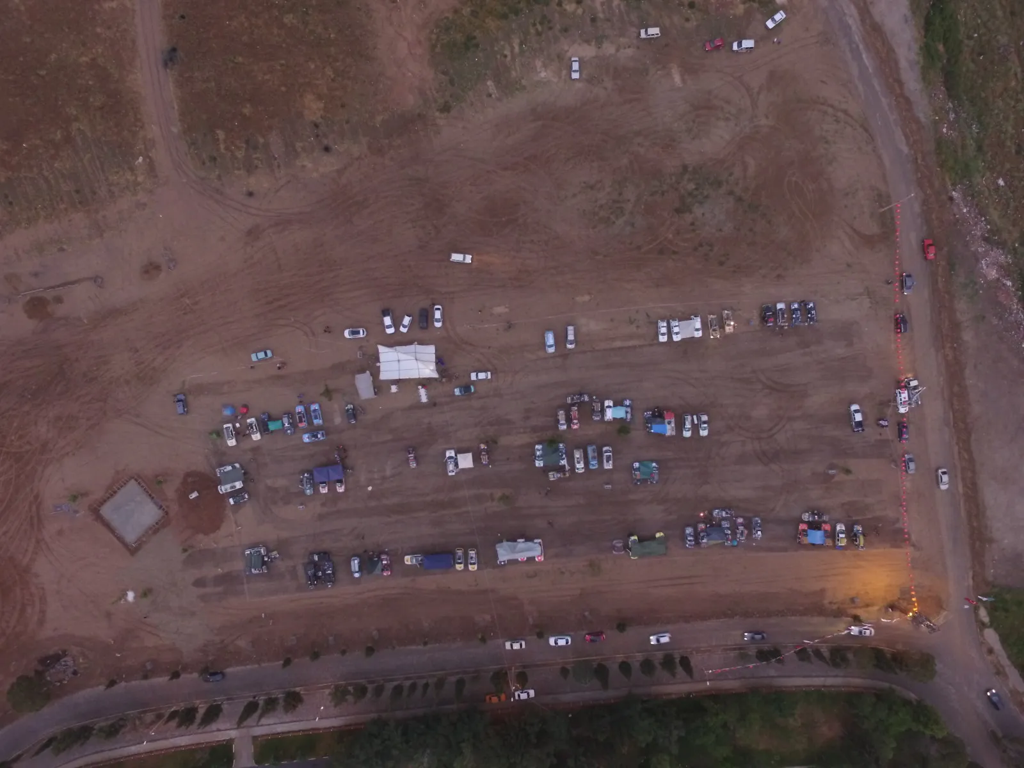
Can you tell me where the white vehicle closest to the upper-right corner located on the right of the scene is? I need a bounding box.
[764,9,786,31]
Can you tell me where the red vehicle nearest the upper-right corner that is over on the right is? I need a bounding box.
[921,238,934,261]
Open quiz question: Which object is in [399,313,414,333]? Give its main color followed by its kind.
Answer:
white car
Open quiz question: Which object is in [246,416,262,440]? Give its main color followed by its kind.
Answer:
white car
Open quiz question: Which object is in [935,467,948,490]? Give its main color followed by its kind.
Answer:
white vehicle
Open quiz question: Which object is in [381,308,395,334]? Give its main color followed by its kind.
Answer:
white vehicle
